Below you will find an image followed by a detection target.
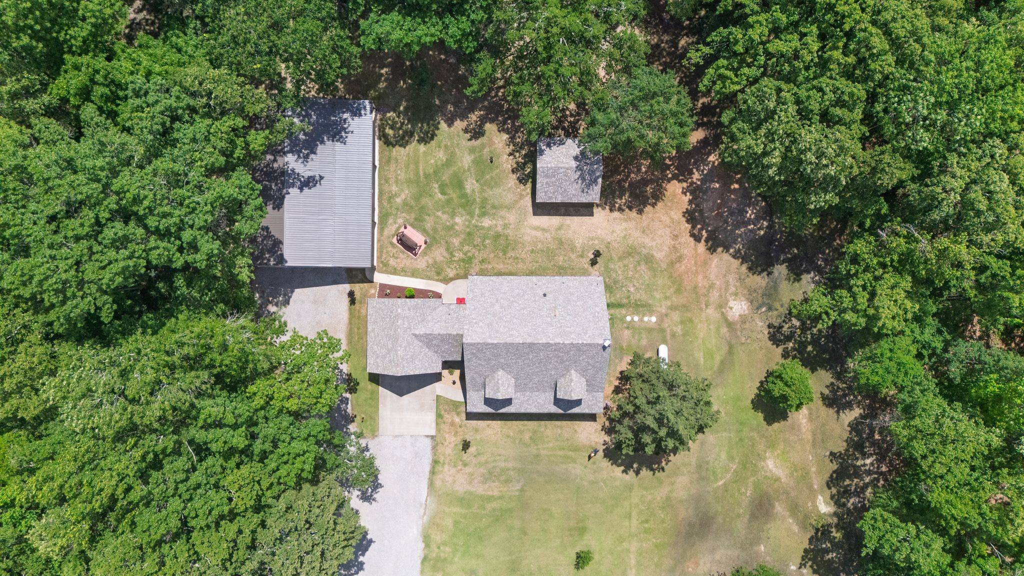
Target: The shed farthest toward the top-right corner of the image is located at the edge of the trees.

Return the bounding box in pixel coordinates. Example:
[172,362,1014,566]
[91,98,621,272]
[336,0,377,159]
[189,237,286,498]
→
[536,138,602,203]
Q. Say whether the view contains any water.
No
